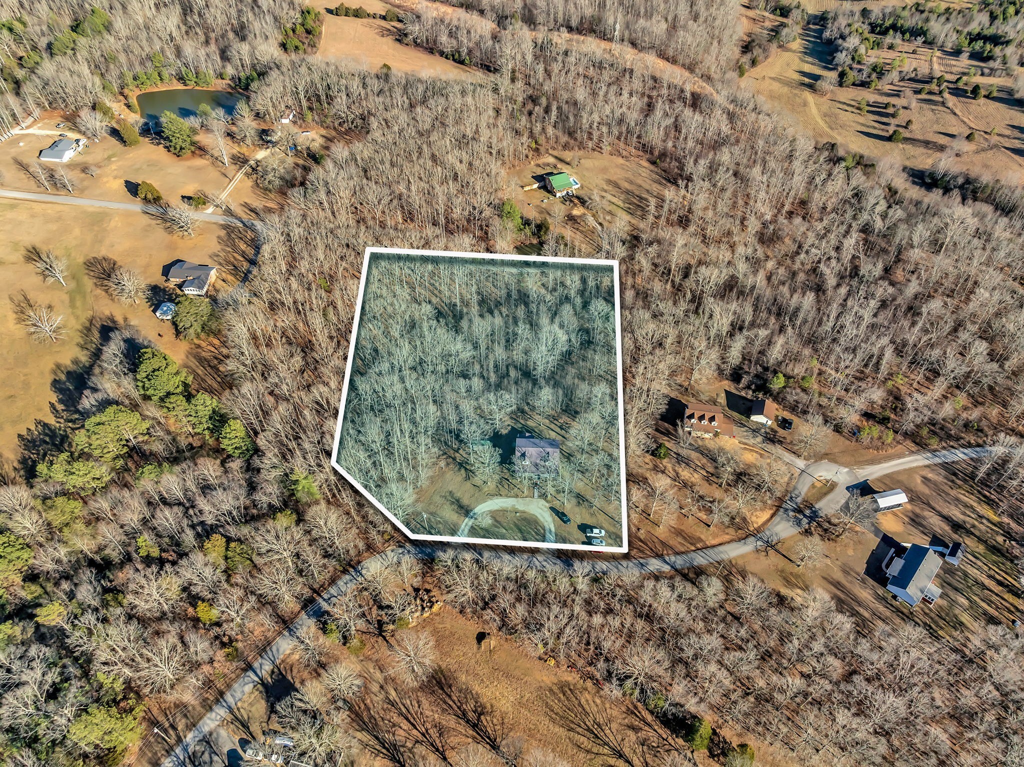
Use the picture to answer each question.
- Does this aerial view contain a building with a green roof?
Yes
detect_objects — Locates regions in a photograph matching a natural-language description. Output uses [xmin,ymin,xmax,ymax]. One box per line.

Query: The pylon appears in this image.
[611,25,624,58]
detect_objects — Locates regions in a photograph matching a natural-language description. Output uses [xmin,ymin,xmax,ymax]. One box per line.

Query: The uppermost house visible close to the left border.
[33,137,83,166]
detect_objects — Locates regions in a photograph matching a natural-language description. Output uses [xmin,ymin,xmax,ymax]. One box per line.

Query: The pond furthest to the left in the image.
[137,92,251,140]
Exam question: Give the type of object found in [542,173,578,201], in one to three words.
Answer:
house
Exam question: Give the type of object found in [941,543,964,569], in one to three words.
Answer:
shed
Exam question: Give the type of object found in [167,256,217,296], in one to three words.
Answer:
house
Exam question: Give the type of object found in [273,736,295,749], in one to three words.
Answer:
vehicle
